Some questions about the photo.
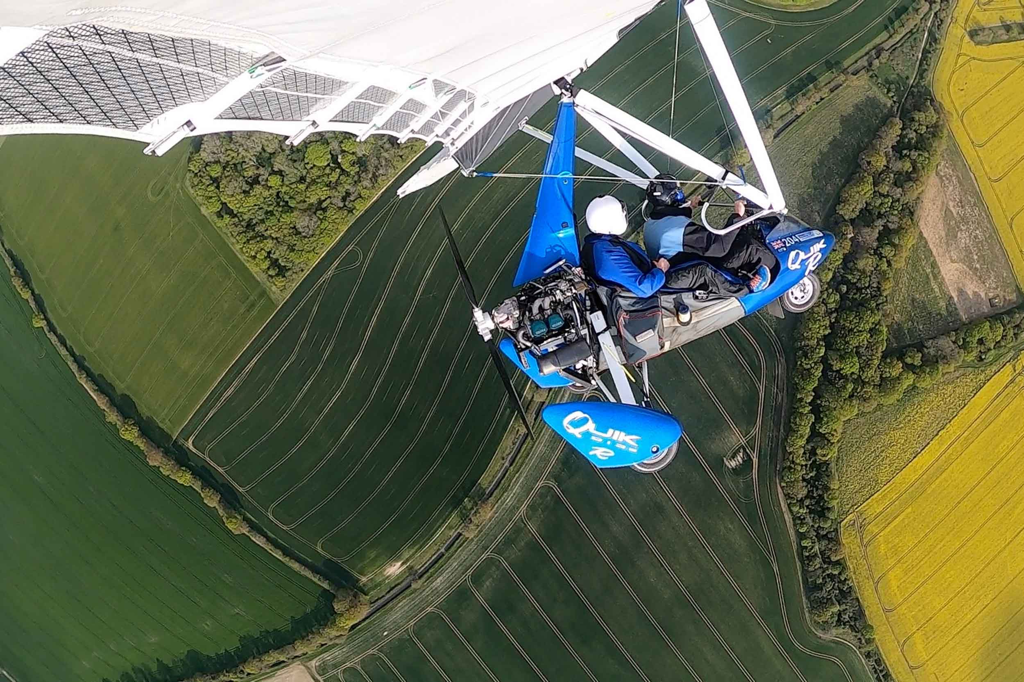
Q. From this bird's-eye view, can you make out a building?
No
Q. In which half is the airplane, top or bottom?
top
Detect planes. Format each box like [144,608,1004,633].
[0,0,835,472]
